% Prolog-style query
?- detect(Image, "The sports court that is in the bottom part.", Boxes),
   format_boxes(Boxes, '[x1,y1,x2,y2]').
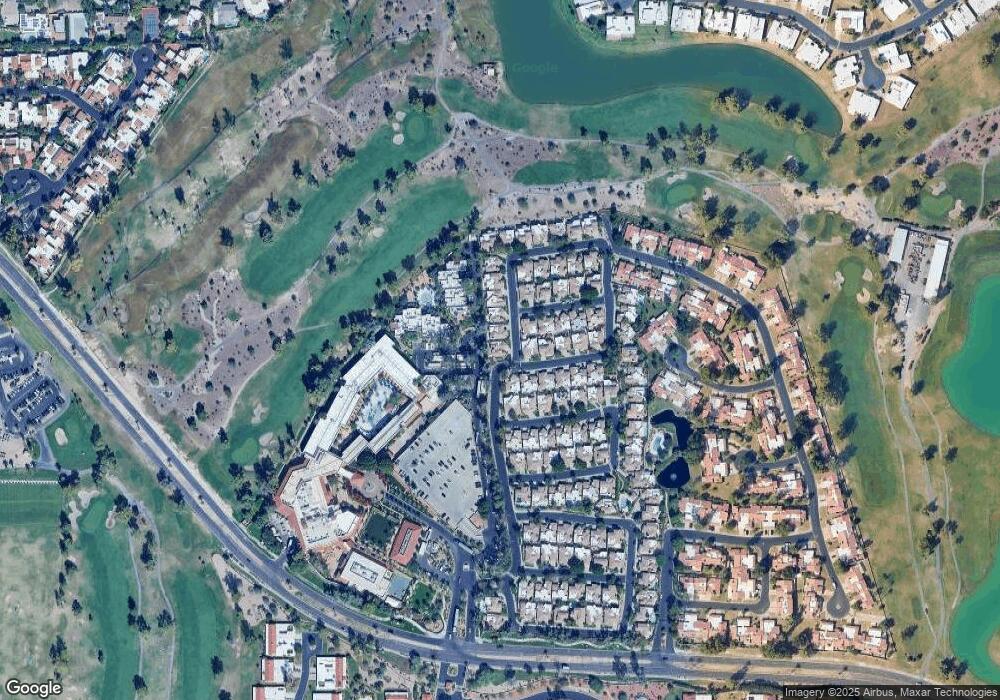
[389,572,412,599]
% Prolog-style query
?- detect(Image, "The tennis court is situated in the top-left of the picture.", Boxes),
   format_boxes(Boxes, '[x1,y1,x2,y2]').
[142,8,159,43]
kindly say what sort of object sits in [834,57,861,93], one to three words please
house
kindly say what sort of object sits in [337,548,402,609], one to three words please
building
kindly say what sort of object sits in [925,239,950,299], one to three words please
shed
